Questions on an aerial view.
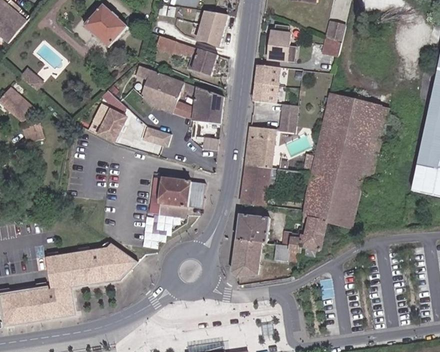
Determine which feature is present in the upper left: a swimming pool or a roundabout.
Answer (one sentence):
There is a swimming pool in the upper left.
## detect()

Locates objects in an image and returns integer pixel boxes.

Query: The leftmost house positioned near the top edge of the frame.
[0,0,28,42]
